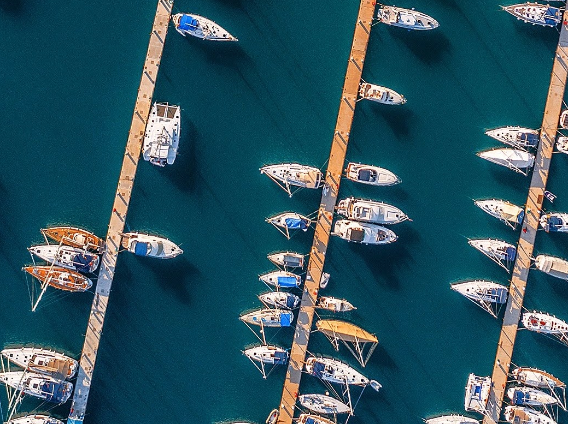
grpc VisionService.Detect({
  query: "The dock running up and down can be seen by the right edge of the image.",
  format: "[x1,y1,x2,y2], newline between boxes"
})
[483,2,568,424]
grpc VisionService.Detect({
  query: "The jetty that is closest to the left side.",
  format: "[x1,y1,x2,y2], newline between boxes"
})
[72,0,174,424]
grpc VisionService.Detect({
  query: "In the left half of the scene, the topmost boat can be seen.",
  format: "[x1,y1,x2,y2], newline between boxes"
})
[163,6,239,42]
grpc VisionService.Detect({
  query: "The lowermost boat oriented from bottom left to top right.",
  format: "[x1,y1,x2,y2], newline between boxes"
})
[265,409,278,424]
